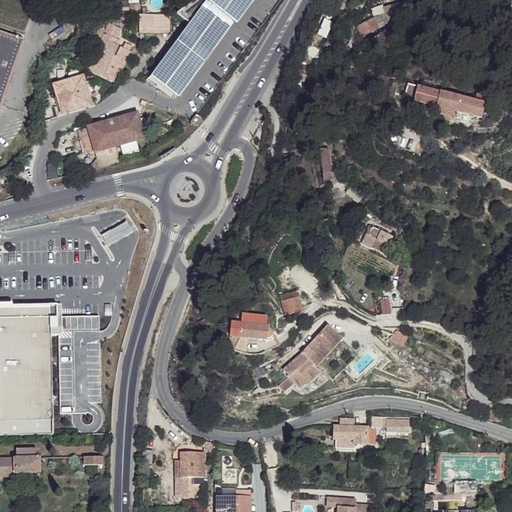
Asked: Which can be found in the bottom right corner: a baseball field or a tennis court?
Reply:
tennis court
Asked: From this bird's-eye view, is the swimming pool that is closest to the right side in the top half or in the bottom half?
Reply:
bottom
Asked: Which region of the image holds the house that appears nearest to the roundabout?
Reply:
top left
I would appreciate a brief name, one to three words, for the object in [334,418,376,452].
house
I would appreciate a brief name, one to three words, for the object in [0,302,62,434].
building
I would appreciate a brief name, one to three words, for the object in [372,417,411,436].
house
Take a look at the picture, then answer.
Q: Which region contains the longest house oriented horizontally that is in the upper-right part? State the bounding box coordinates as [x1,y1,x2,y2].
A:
[414,84,486,118]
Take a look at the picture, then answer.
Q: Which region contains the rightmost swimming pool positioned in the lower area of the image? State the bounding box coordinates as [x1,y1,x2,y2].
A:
[346,346,390,382]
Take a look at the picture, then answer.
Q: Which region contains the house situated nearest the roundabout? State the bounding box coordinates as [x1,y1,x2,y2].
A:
[78,108,143,152]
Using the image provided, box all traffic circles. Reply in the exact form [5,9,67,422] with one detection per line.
[154,152,220,230]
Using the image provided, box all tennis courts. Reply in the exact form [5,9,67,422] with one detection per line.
[436,452,506,484]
